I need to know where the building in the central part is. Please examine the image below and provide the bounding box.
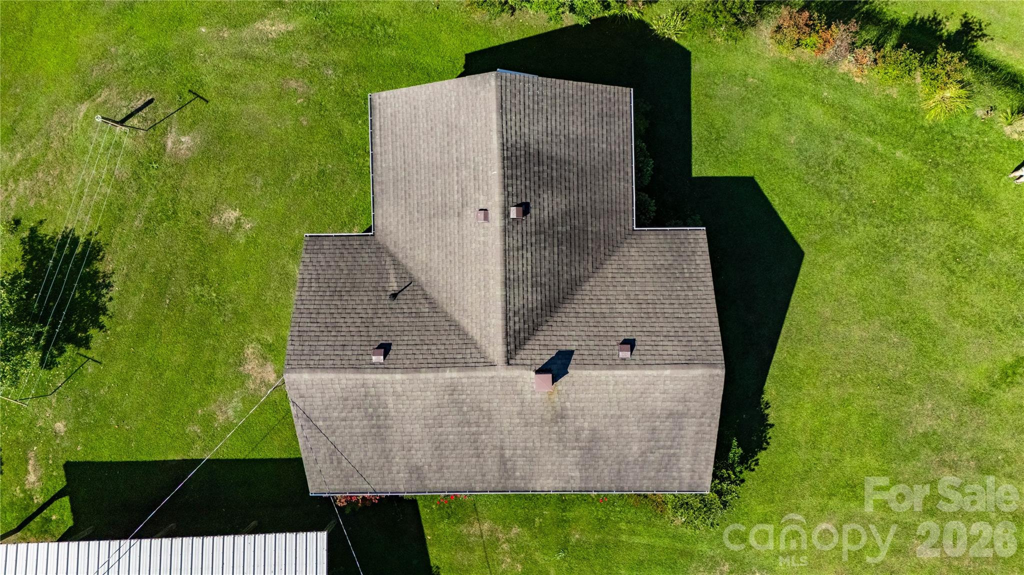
[285,68,725,497]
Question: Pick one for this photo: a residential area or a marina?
residential area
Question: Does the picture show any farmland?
No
